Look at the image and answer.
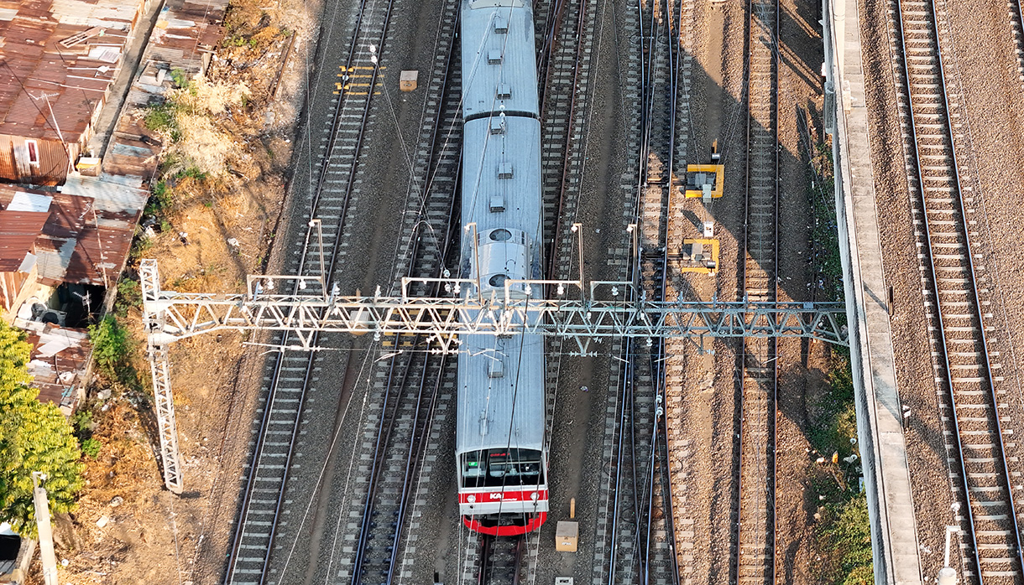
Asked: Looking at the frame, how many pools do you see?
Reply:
none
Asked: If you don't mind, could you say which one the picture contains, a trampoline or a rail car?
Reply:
rail car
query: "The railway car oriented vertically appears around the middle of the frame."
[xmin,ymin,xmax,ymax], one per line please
[452,114,550,536]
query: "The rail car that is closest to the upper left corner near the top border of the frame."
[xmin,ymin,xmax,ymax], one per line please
[458,0,539,133]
